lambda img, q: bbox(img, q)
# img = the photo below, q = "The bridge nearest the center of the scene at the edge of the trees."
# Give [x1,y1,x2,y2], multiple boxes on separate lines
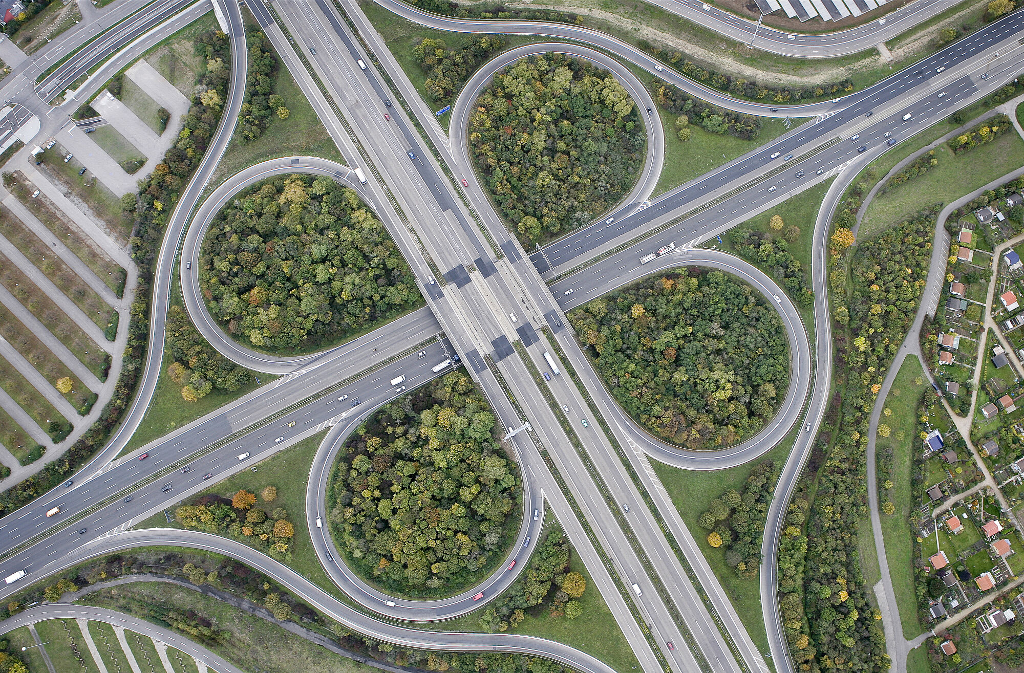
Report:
[415,229,579,389]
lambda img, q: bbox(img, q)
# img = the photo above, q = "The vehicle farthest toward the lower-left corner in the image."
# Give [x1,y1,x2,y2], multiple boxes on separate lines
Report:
[4,569,29,584]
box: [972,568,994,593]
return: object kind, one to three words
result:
house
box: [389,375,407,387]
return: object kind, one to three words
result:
vehicle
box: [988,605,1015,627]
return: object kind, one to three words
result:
house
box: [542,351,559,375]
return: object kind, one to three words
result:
vehicle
